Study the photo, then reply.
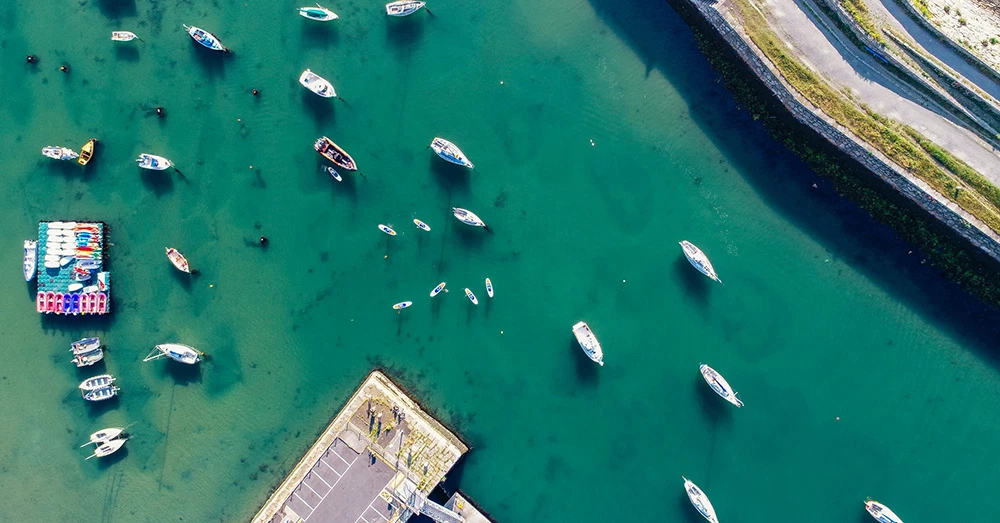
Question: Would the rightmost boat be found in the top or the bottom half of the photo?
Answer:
bottom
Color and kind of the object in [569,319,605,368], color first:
white boat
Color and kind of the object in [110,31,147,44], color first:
white boat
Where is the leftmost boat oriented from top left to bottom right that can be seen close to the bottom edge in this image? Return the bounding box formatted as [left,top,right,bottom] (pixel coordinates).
[683,476,724,523]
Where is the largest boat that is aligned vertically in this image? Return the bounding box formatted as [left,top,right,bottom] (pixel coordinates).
[22,237,39,281]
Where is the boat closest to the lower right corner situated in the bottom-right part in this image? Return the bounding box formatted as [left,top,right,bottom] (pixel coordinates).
[860,498,903,523]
